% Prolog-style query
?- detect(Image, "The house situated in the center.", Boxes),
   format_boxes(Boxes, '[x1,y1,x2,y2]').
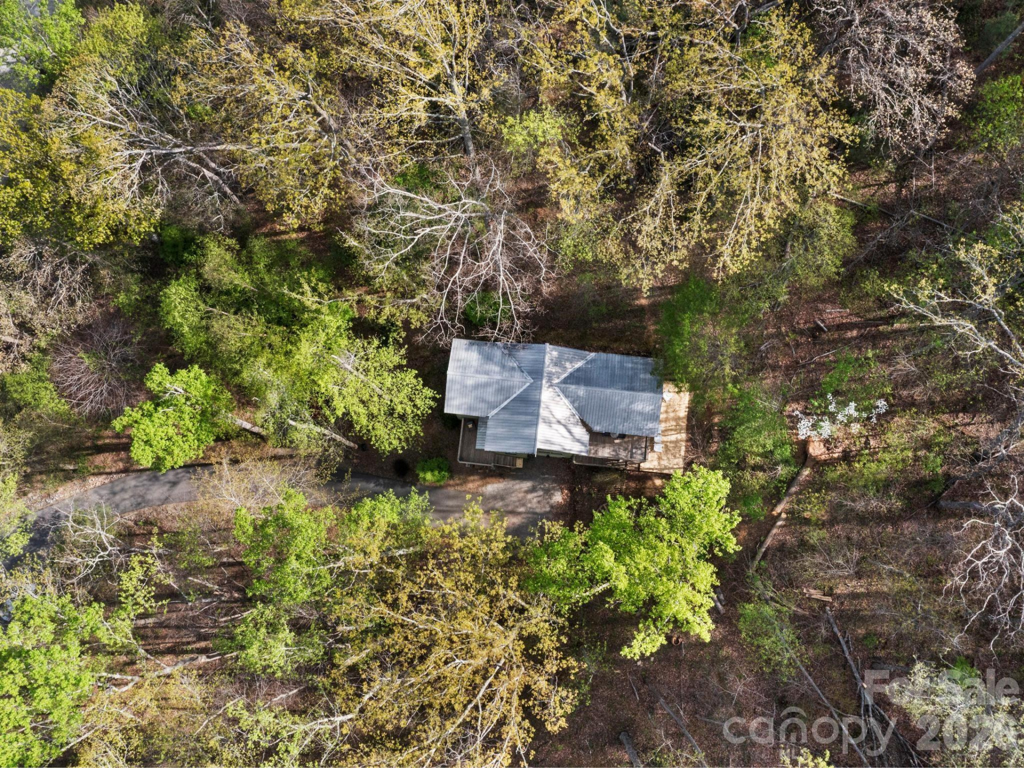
[444,340,665,461]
